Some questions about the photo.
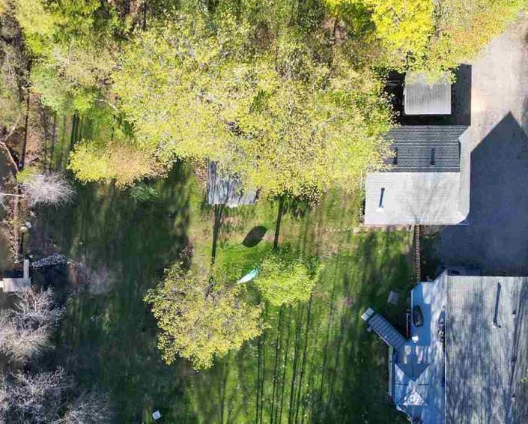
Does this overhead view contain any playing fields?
No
